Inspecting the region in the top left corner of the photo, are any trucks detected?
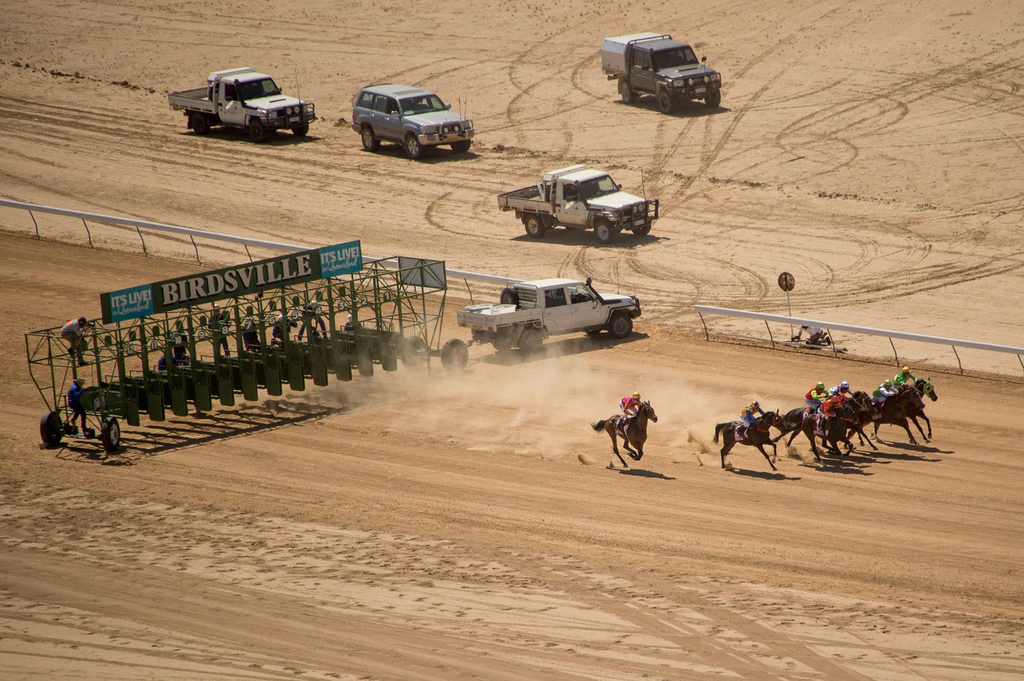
Yes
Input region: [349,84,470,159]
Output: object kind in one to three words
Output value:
car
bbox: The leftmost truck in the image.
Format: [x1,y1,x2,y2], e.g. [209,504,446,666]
[171,66,309,143]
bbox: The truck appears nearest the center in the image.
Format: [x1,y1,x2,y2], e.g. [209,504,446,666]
[459,256,644,355]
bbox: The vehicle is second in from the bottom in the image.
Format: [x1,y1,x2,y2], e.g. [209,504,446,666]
[497,165,661,245]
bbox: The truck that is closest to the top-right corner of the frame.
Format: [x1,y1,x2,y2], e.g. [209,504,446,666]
[603,33,721,113]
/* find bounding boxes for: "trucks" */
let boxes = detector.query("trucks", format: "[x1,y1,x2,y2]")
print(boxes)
[459,256,644,355]
[497,165,661,245]
[603,33,721,113]
[171,66,309,143]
